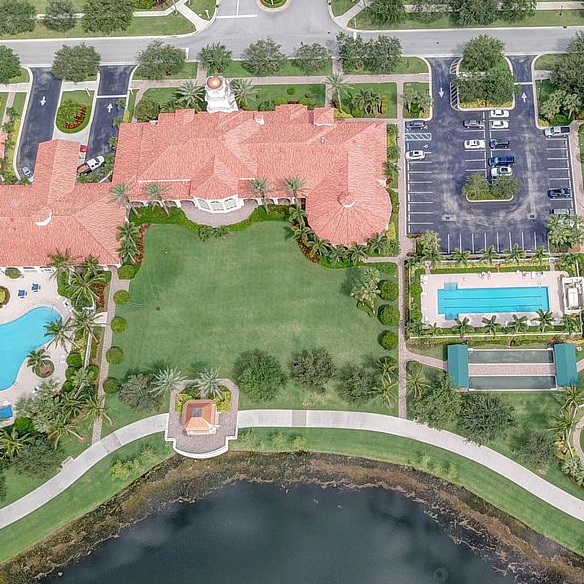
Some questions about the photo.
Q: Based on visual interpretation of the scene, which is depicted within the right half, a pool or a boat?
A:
pool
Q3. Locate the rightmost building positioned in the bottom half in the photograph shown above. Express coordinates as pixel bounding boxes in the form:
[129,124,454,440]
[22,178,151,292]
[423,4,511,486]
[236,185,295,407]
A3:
[181,399,219,435]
